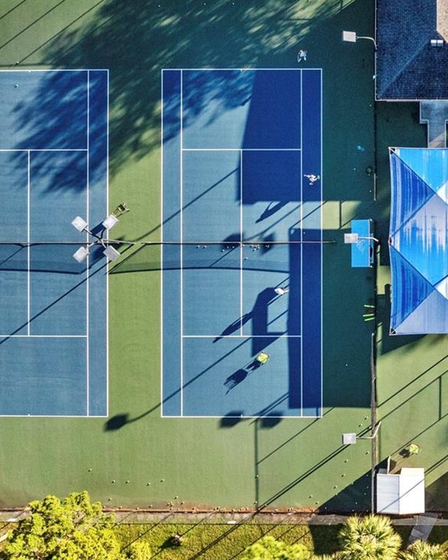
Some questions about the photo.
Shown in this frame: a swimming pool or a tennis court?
tennis court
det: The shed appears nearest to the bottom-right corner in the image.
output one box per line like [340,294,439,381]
[376,467,424,516]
